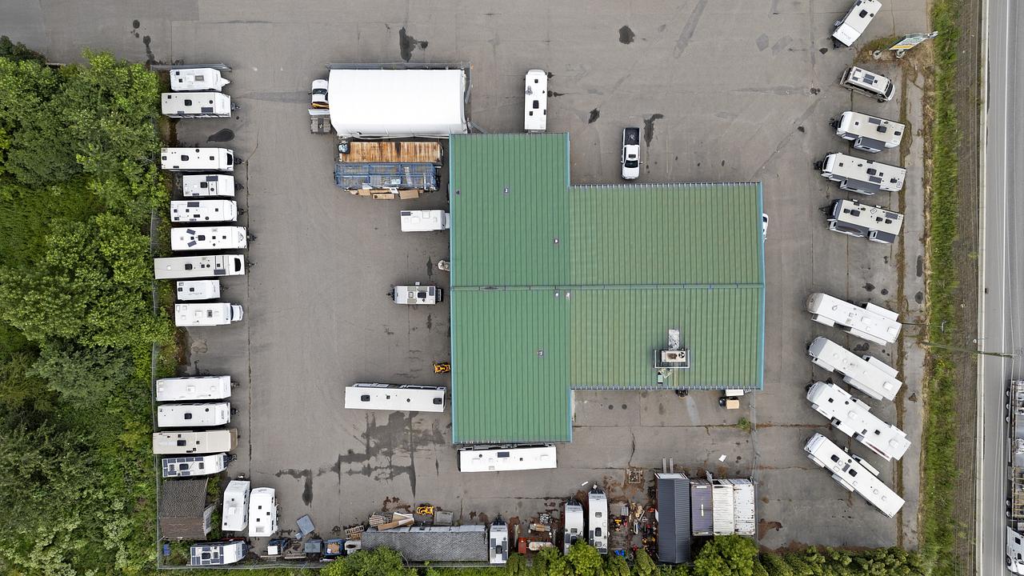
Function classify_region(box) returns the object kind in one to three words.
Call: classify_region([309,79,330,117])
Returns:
truck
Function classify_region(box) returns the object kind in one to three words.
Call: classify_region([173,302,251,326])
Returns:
camper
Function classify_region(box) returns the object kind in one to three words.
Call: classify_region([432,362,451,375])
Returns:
vehicle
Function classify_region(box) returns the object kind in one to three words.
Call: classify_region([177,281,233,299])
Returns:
trailer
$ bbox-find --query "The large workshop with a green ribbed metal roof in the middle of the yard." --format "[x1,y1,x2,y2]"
[449,132,765,445]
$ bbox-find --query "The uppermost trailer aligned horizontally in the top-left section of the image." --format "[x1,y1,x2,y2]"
[171,68,232,94]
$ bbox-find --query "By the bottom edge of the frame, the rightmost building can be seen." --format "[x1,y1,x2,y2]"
[655,474,690,564]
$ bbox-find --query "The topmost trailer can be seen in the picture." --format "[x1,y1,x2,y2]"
[829,0,881,47]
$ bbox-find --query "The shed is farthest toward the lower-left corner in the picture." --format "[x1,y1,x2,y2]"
[160,477,210,539]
